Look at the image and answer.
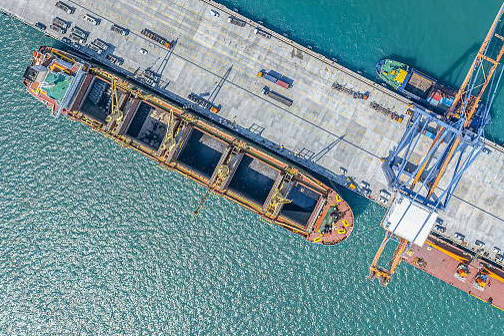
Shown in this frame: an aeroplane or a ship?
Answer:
ship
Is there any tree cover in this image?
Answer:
No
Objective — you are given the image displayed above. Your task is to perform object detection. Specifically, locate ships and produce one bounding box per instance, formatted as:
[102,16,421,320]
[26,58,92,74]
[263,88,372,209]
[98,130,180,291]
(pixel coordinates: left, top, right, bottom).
[376,59,495,130]
[402,231,504,310]
[16,47,355,245]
